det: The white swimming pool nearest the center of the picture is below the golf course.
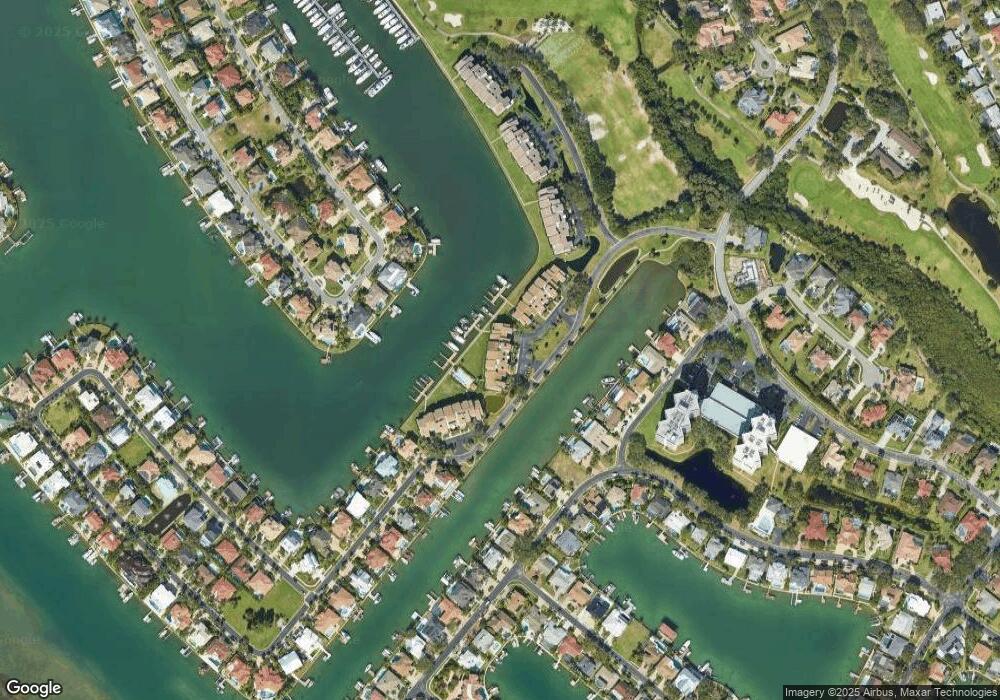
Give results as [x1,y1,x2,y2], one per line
[450,363,476,388]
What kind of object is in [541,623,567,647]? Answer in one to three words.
house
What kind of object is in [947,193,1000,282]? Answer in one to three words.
pond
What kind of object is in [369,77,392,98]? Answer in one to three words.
boat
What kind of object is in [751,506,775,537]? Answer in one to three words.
swimming pool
